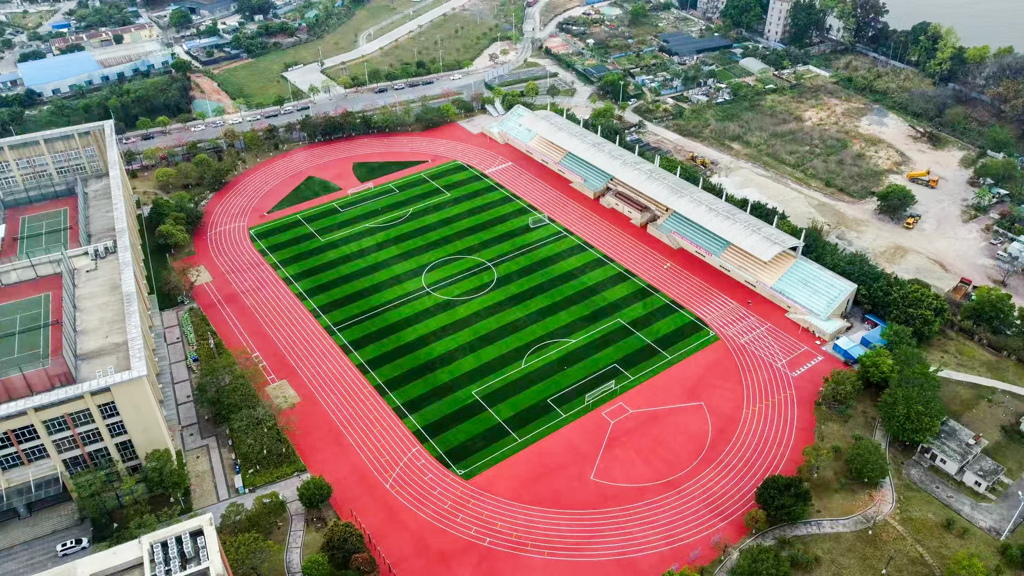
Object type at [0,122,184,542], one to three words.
building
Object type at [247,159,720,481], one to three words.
sports field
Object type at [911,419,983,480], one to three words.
house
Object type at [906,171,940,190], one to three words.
vehicle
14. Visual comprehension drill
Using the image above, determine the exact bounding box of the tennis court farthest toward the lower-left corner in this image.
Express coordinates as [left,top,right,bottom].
[0,294,52,380]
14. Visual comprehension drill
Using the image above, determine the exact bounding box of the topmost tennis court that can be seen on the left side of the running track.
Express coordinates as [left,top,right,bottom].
[7,208,67,258]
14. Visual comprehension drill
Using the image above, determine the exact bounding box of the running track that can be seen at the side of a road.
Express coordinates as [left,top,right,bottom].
[172,123,848,576]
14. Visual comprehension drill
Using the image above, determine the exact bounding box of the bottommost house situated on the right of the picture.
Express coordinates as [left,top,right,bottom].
[959,453,1003,494]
